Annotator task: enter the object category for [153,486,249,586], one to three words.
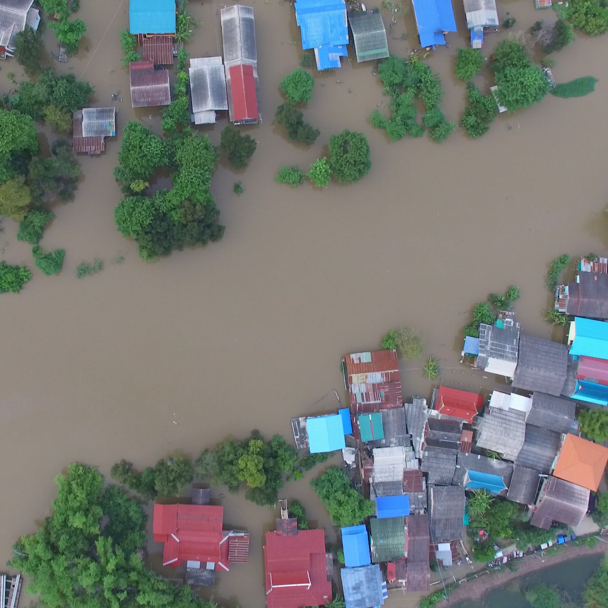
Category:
house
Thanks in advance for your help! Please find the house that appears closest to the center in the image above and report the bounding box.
[340,350,402,414]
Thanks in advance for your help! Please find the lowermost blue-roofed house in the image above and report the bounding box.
[340,561,388,608]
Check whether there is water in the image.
Yes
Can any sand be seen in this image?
No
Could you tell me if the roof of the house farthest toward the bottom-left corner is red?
Yes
